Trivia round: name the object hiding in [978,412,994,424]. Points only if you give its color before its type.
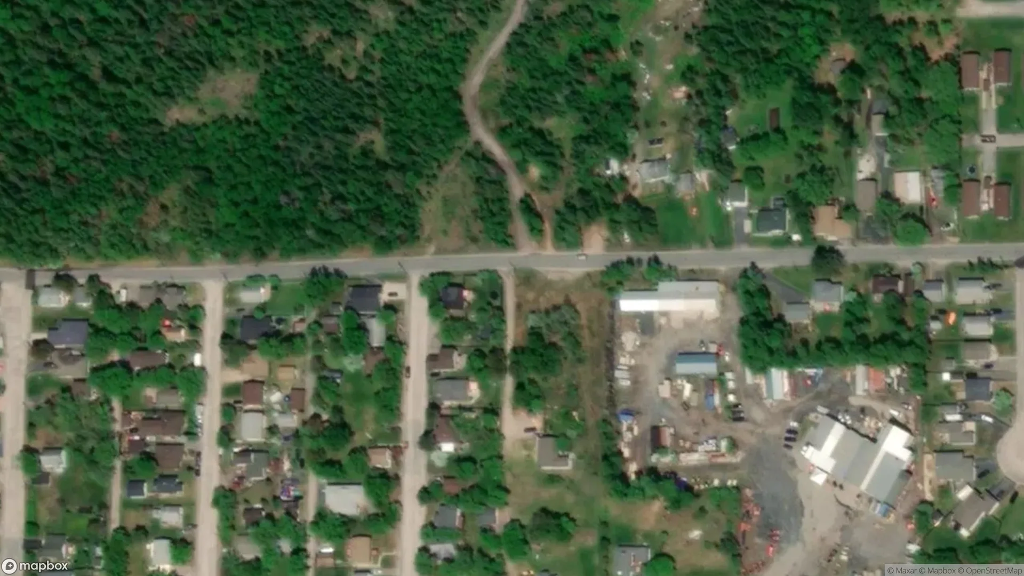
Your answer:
white vehicle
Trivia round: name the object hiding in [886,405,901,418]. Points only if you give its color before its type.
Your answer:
white vehicle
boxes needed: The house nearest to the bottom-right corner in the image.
[954,486,1001,531]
